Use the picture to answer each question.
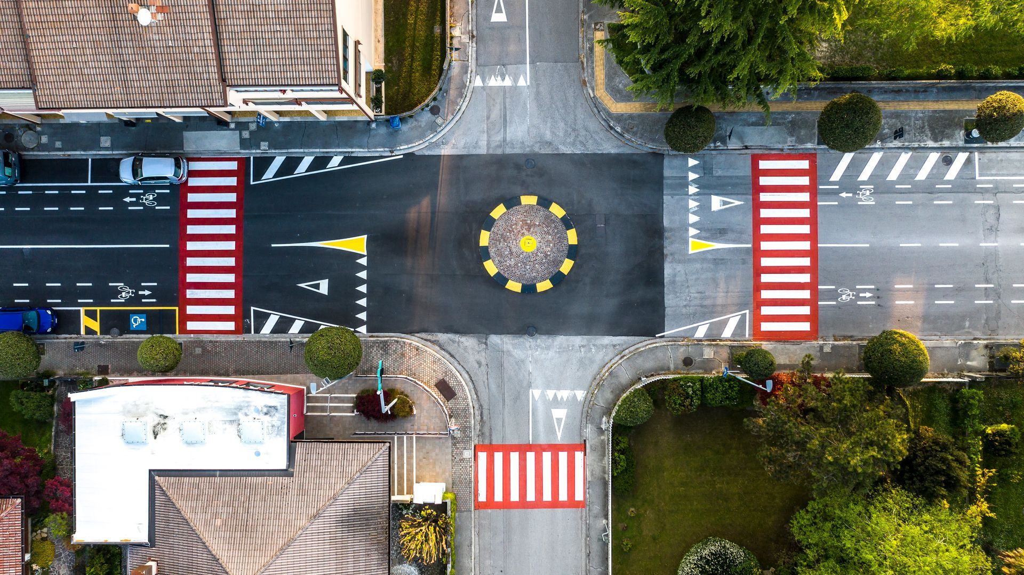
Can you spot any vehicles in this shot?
Yes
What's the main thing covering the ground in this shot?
paved ground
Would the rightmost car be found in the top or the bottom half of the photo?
top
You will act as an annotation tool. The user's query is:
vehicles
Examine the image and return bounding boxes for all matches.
[120,151,189,186]
[0,151,28,184]
[0,304,60,335]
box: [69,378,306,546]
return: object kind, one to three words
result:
building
